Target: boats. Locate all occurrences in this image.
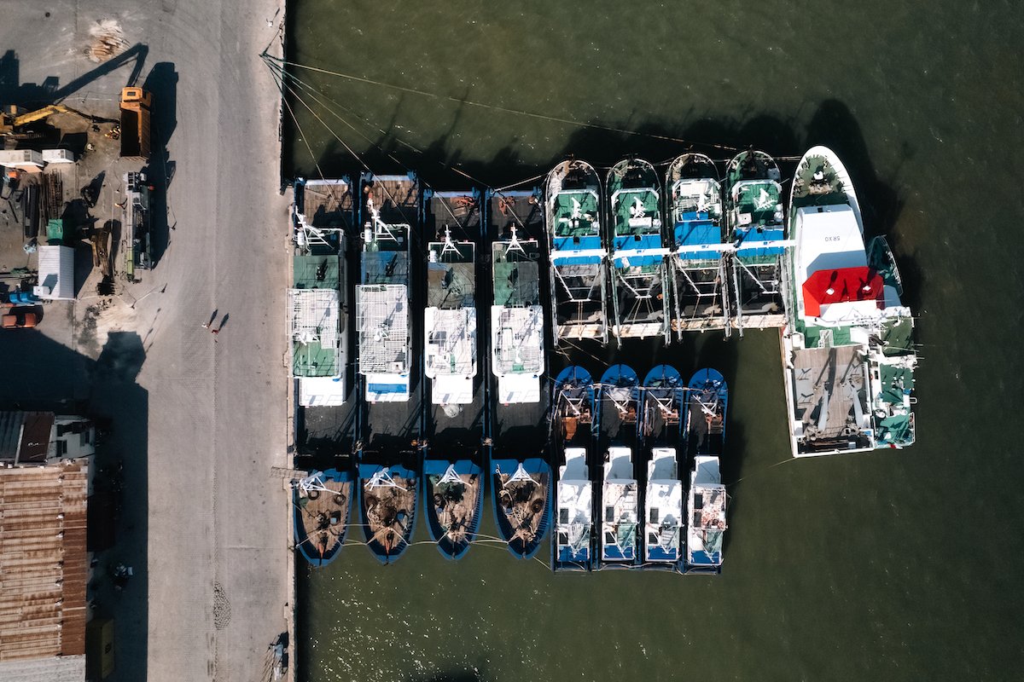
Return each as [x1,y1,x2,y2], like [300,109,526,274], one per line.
[606,154,672,346]
[863,236,924,450]
[487,182,552,561]
[683,369,732,572]
[549,367,599,570]
[355,172,421,564]
[637,365,688,568]
[595,365,647,568]
[286,176,358,567]
[723,146,795,337]
[664,148,732,340]
[547,156,610,347]
[421,183,484,561]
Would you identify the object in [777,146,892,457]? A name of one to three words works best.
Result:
ship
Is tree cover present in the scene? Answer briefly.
No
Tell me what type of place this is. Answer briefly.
port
